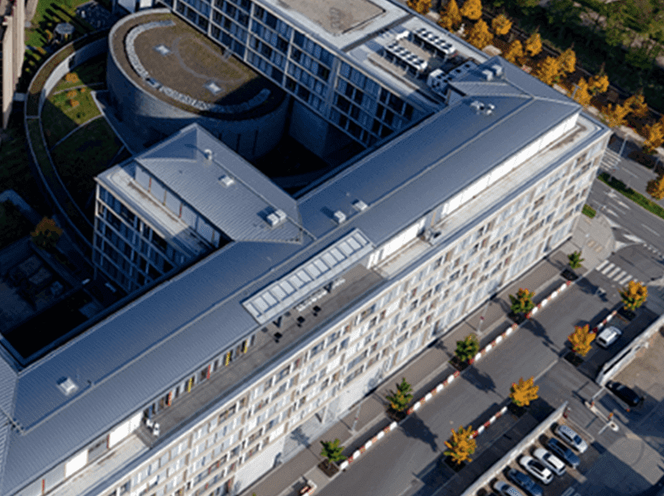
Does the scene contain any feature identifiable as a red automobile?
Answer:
No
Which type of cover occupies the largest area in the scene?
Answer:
buildings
